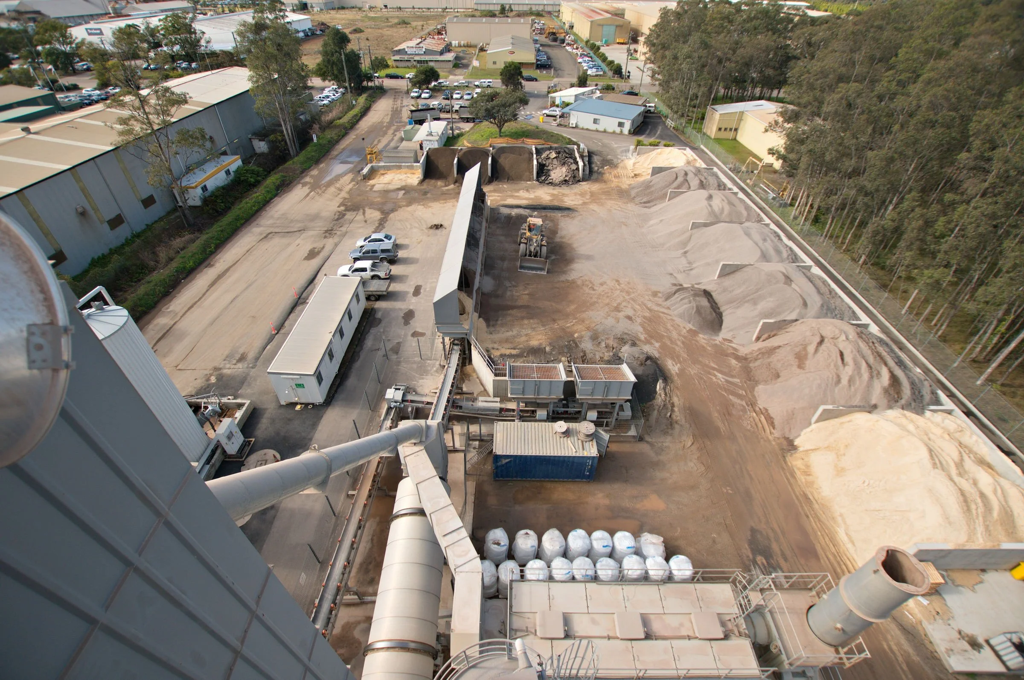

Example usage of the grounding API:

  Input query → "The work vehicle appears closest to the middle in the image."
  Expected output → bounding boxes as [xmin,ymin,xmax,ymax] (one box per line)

[518,214,557,274]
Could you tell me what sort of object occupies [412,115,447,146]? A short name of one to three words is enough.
shed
